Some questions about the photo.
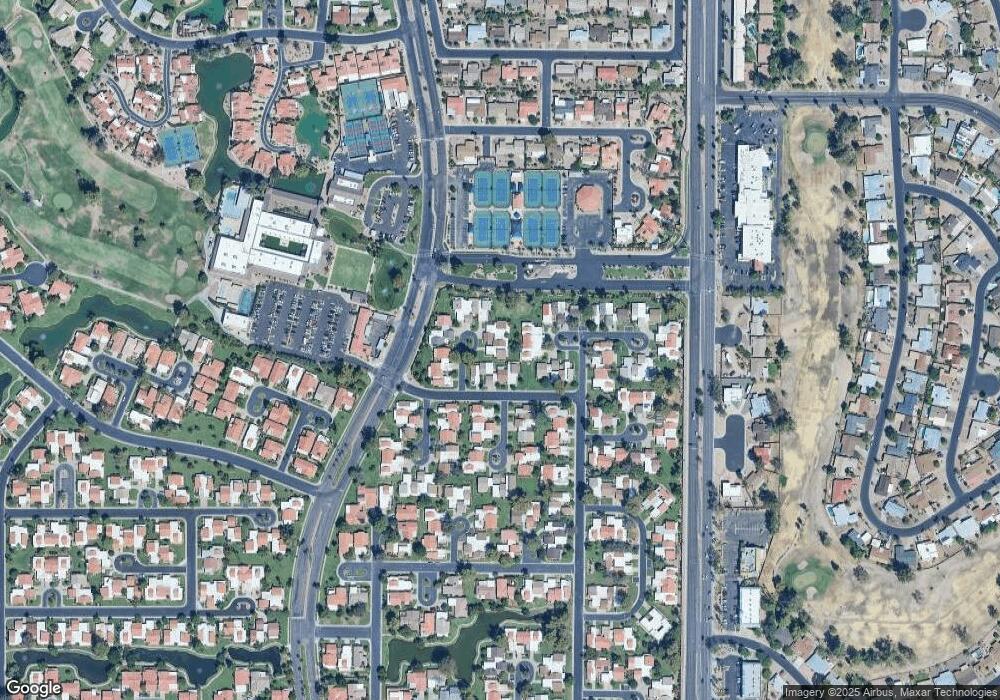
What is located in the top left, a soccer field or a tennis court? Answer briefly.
tennis court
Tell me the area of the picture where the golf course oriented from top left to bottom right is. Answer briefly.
top left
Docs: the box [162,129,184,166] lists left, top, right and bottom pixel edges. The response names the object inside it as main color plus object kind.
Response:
blue tennis court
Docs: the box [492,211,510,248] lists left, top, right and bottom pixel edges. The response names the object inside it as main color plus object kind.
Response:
blue tennis court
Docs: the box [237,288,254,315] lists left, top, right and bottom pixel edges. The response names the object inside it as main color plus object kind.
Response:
blue swimming pool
